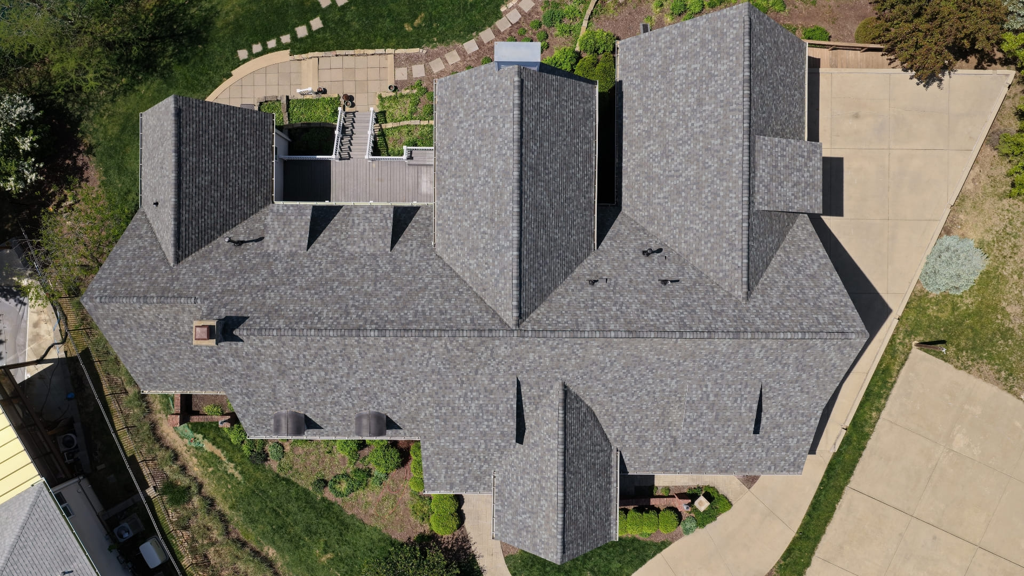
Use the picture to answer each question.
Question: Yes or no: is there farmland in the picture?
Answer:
No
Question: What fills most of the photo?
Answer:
buildings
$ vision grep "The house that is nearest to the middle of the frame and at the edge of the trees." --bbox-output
[83,3,869,564]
